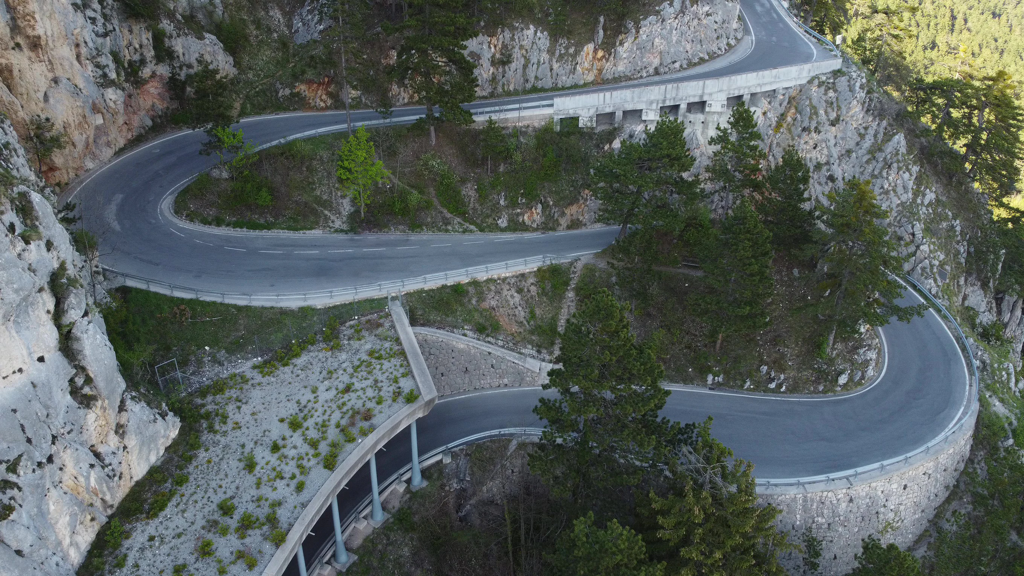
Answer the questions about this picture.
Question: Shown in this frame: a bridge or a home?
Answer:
bridge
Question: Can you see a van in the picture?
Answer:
No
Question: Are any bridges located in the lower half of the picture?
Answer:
No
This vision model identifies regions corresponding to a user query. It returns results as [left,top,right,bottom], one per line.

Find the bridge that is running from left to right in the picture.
[555,57,842,147]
